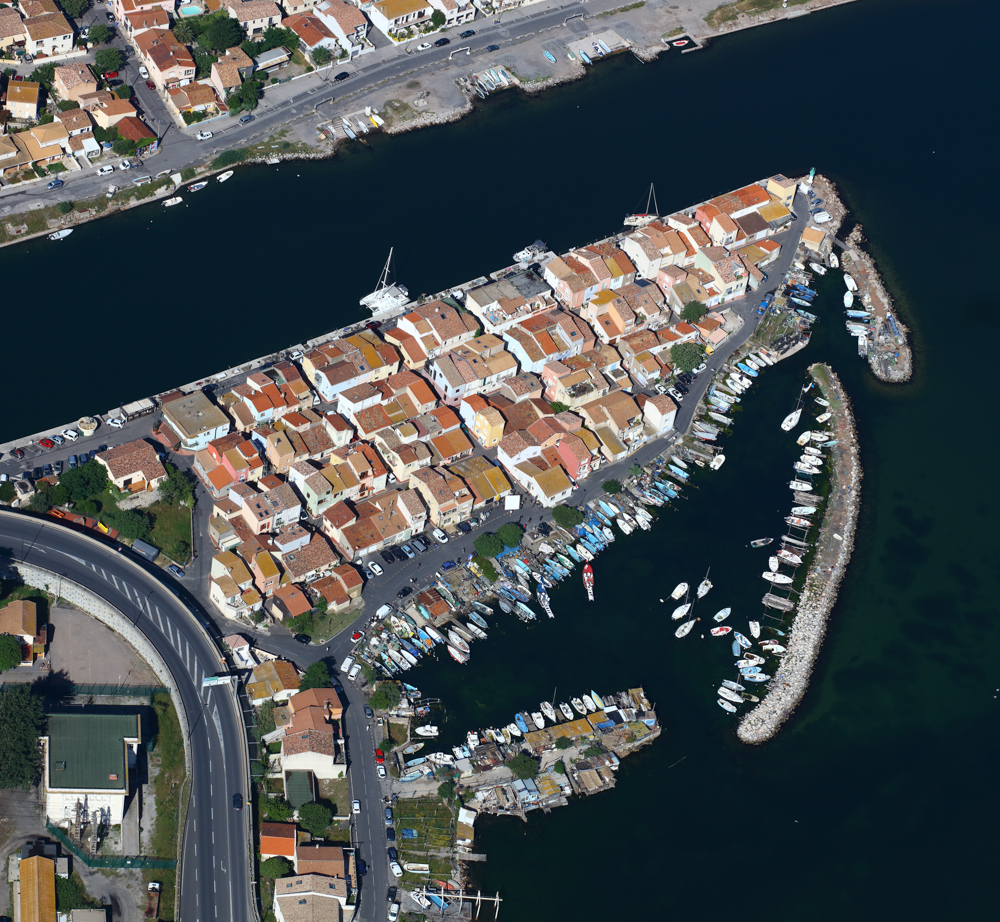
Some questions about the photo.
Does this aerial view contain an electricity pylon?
Yes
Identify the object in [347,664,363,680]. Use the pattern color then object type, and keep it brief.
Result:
white car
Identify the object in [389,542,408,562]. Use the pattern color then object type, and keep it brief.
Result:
black vehicle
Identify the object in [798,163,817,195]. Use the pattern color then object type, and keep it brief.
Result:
white lighthouse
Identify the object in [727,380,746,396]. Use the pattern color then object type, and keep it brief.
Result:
white boat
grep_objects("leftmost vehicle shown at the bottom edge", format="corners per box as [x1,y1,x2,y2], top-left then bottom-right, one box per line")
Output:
[146,881,160,915]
